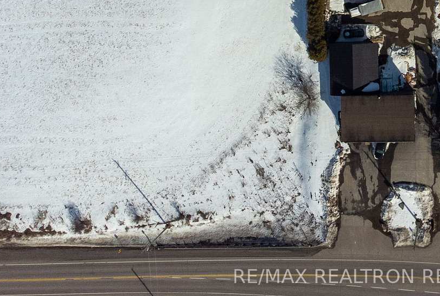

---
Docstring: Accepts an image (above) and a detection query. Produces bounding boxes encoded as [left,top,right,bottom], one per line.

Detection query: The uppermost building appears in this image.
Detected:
[330,41,379,96]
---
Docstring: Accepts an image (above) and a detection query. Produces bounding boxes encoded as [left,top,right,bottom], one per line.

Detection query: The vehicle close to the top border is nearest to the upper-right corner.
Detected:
[349,0,384,19]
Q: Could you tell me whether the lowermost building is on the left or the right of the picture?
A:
right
